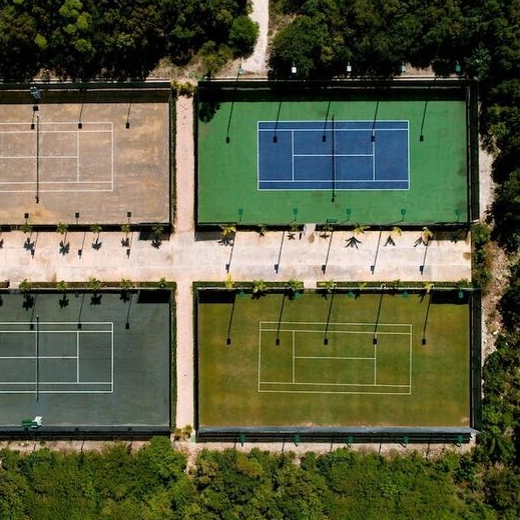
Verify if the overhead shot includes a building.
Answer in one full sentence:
No, I can't see a single building in this photo.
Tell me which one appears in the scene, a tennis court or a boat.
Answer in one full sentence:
I can see a tennis court in this picture.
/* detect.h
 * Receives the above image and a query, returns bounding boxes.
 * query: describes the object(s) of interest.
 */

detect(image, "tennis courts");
[0,89,169,224]
[200,289,472,426]
[0,290,169,426]
[198,87,469,223]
